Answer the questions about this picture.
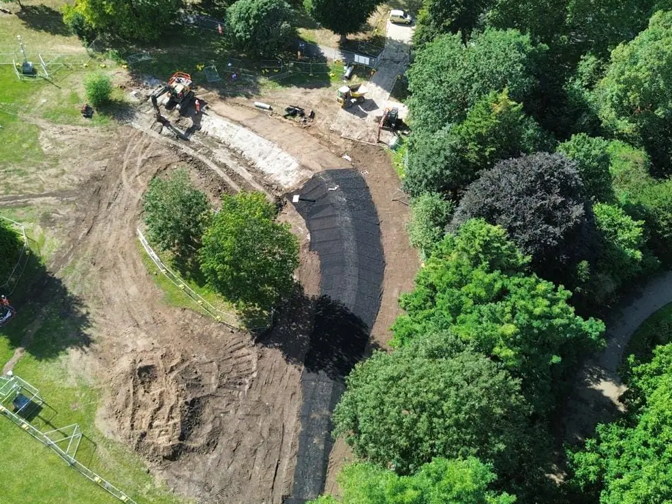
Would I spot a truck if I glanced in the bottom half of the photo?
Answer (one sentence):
No, in the bottom half of the photo there is no truck.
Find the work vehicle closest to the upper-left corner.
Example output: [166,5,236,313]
[144,75,198,124]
